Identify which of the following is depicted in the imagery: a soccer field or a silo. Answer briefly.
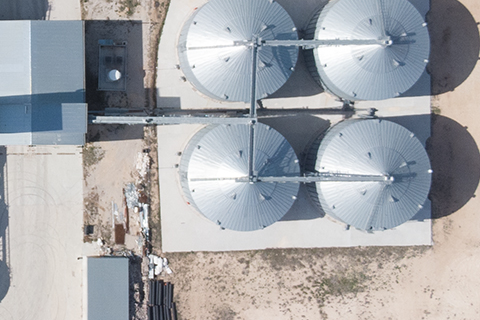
silo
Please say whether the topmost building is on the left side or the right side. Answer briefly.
left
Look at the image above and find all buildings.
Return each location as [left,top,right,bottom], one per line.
[0,19,87,146]
[80,254,129,320]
